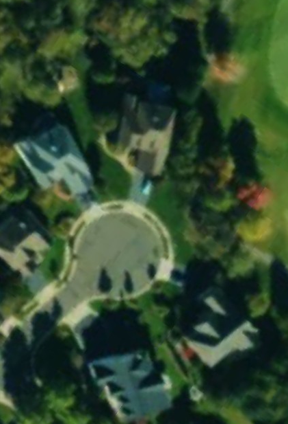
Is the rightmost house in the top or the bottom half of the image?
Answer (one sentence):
The bottom half of the photo is where the rightmost house is.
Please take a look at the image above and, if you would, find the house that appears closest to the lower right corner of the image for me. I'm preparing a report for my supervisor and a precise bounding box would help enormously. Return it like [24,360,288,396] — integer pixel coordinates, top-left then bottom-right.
[186,287,258,368]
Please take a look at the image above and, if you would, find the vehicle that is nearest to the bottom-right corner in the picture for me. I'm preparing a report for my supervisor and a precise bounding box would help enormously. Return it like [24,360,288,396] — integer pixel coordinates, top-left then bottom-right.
[170,268,185,282]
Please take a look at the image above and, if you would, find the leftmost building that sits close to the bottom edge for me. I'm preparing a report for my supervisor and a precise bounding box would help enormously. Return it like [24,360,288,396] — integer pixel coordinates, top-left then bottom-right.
[85,349,177,423]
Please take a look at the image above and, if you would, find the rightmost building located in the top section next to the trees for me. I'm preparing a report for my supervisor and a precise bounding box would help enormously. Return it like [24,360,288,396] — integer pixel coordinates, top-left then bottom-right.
[116,81,178,180]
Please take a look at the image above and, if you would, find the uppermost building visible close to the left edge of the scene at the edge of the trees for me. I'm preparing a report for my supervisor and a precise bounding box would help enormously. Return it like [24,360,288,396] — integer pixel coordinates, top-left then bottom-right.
[12,120,97,199]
